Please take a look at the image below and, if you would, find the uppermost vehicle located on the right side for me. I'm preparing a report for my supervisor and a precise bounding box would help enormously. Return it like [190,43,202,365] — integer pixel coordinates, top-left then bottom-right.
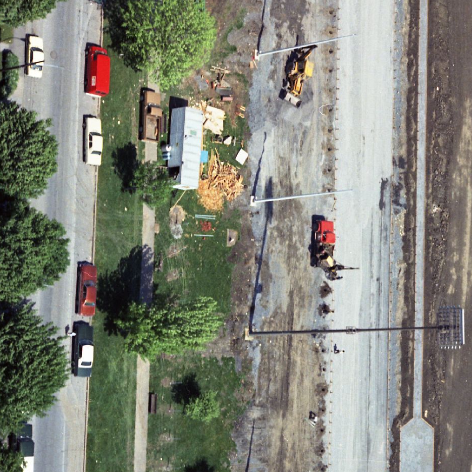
[279,48,321,106]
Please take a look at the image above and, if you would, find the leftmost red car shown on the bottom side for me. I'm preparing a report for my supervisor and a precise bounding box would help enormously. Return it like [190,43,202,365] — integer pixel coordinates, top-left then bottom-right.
[75,262,97,318]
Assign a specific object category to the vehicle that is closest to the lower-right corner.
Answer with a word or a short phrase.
truck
